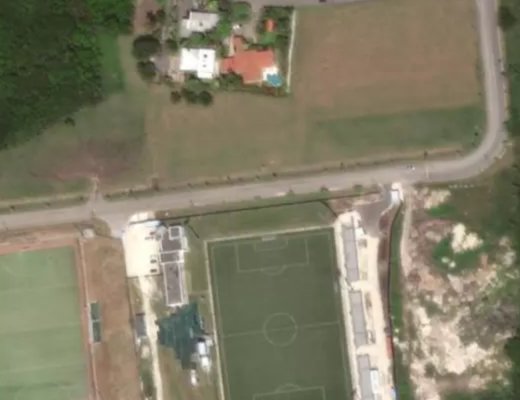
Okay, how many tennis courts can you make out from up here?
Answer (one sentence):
The count of tennis courts is 0.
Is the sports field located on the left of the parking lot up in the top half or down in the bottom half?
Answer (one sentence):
The sports field located on the left of the parking lot sits in the bottom half of the picture.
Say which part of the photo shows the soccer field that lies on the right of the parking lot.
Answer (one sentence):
The soccer field that lies on the right of the parking lot appears toward the bottom of the photo.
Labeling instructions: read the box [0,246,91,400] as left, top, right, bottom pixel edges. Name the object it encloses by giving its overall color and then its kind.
green sports field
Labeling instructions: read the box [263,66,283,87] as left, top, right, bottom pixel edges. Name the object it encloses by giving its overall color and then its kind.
white swimming pool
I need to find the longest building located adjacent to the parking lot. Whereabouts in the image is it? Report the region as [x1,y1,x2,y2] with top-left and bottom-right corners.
[160,224,187,305]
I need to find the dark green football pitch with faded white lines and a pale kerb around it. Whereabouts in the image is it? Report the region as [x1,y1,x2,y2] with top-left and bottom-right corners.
[207,226,353,400]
